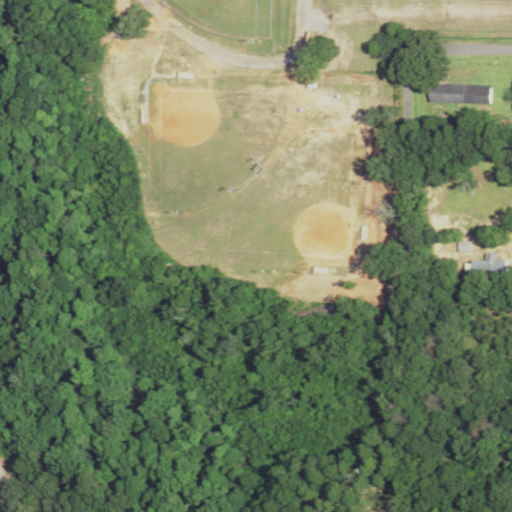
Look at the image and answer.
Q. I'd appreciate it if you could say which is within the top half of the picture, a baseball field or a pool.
baseball field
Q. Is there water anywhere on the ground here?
No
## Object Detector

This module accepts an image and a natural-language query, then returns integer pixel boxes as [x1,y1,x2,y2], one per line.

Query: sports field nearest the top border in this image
[162,0,271,40]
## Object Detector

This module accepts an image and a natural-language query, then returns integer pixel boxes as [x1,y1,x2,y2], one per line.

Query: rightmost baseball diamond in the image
[226,131,354,265]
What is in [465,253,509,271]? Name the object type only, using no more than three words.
house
